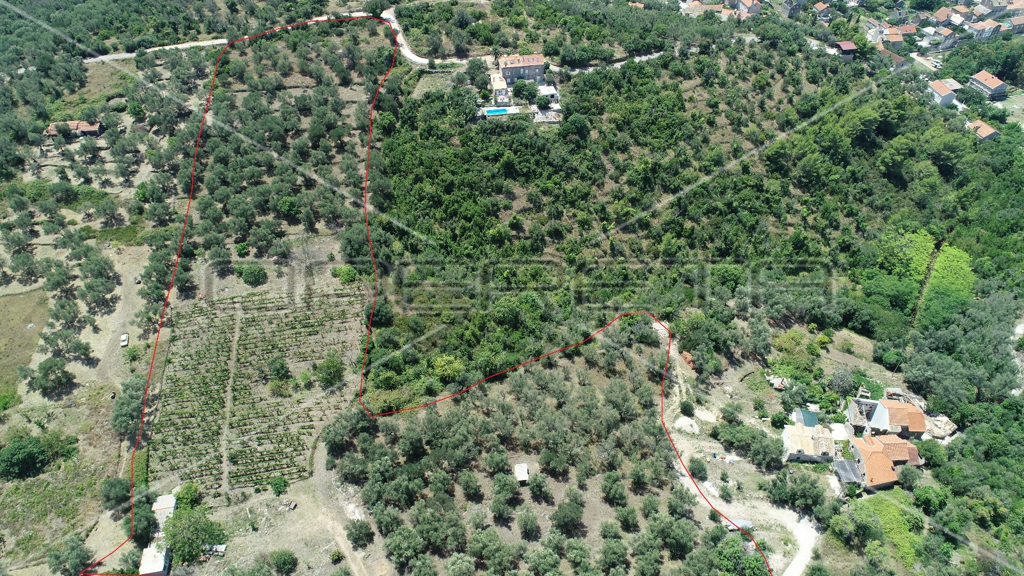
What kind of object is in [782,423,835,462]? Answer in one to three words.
house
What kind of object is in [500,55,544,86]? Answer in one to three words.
house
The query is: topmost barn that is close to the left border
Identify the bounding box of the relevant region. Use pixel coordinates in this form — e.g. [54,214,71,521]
[47,122,103,141]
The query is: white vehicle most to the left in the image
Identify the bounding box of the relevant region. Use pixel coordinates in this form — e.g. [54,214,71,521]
[117,331,129,347]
